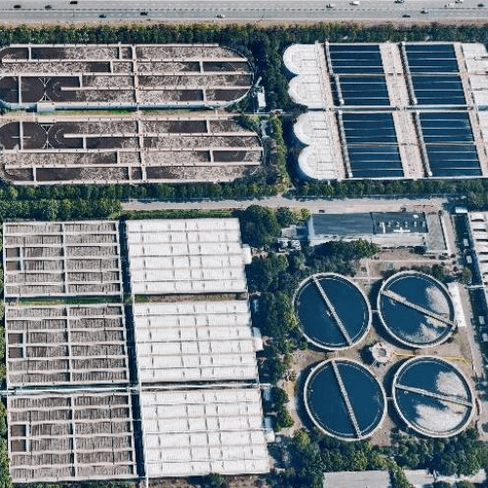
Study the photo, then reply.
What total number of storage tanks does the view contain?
4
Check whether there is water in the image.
Yes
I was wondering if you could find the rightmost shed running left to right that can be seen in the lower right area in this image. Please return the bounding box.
[402,470,487,486]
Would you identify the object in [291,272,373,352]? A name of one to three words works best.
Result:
storage tank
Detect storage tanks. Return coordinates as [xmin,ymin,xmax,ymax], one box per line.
[390,355,476,440]
[291,272,373,352]
[374,271,456,350]
[302,359,386,443]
